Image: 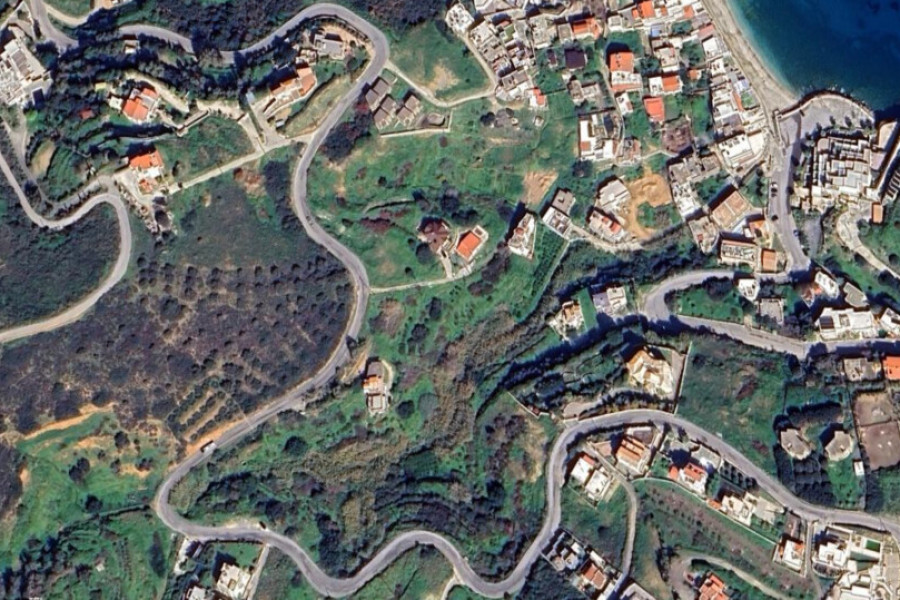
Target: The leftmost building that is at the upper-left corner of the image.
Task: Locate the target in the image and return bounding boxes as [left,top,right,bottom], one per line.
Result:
[0,26,54,108]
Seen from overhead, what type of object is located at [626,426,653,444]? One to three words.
shed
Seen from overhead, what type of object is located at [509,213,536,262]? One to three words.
building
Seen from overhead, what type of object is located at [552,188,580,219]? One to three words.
house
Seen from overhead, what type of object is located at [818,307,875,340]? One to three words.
building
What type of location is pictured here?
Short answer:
residential area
